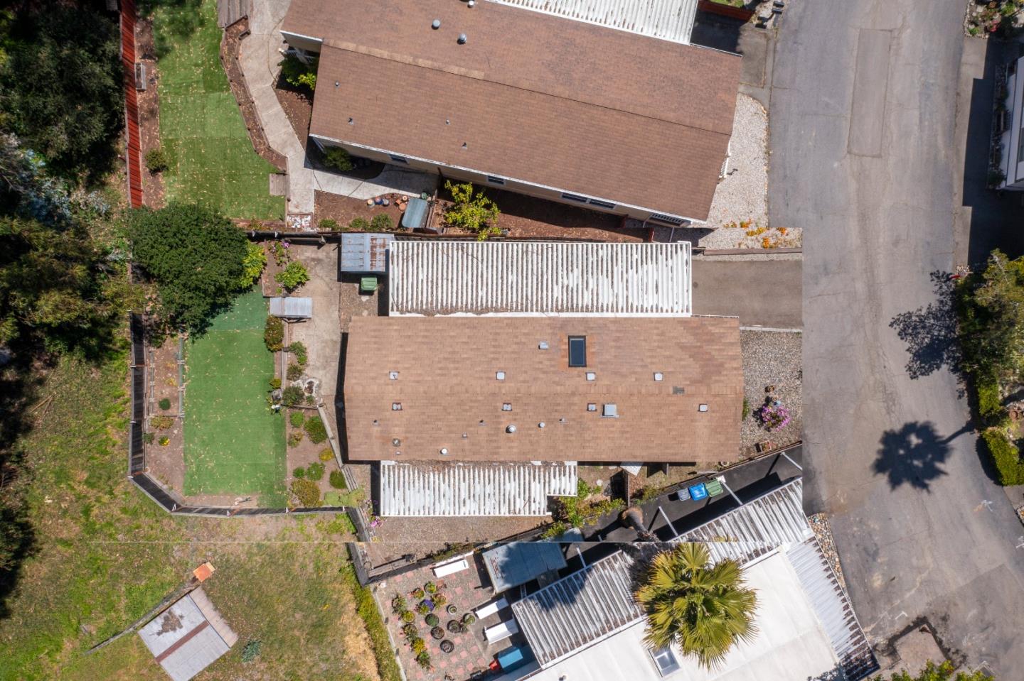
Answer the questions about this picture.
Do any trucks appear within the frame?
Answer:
No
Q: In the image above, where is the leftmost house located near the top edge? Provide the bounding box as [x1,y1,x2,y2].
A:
[270,0,742,230]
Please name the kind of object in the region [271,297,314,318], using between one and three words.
building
